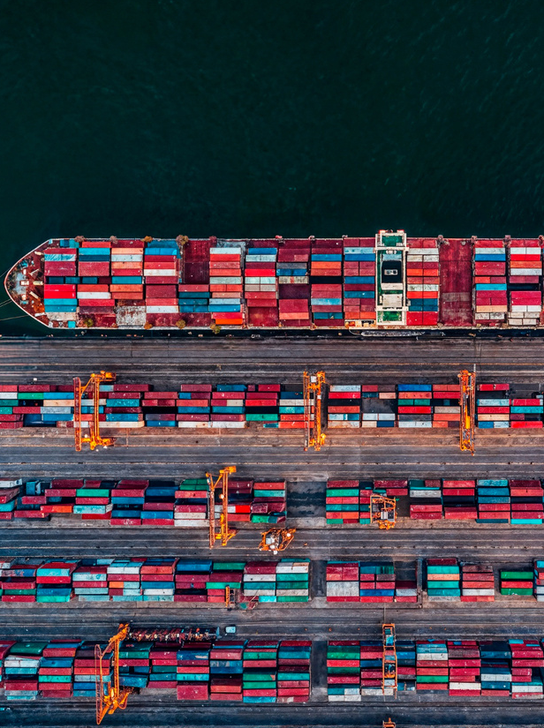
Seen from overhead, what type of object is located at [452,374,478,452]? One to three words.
crane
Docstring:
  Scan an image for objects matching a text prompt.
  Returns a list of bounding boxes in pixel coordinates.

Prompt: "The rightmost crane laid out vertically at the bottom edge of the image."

[381,624,404,701]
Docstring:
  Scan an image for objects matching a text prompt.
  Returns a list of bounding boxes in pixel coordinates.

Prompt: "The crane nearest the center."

[303,374,333,449]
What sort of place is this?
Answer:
port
